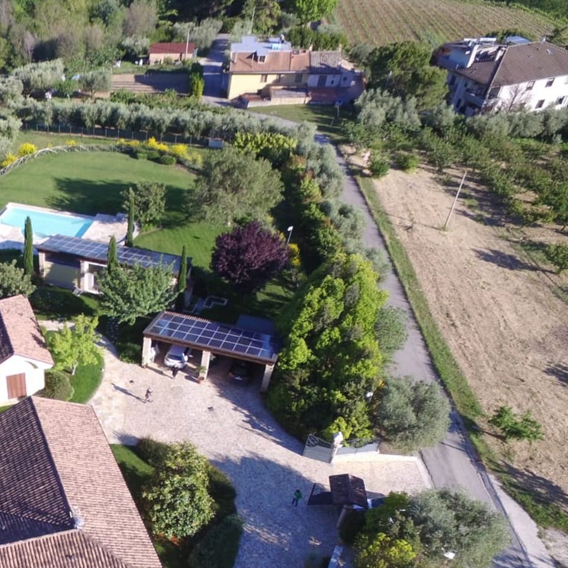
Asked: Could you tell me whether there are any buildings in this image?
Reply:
Yes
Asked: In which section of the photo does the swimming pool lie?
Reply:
left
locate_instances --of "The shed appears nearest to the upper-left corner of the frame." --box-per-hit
[148,39,198,69]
